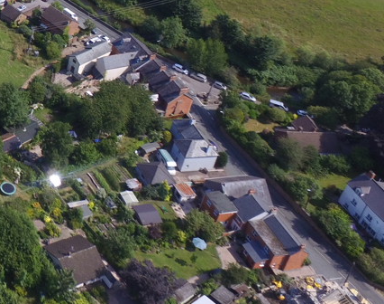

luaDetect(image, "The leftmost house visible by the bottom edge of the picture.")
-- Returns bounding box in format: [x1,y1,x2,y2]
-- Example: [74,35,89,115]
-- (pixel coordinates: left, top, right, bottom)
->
[33,224,121,304]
